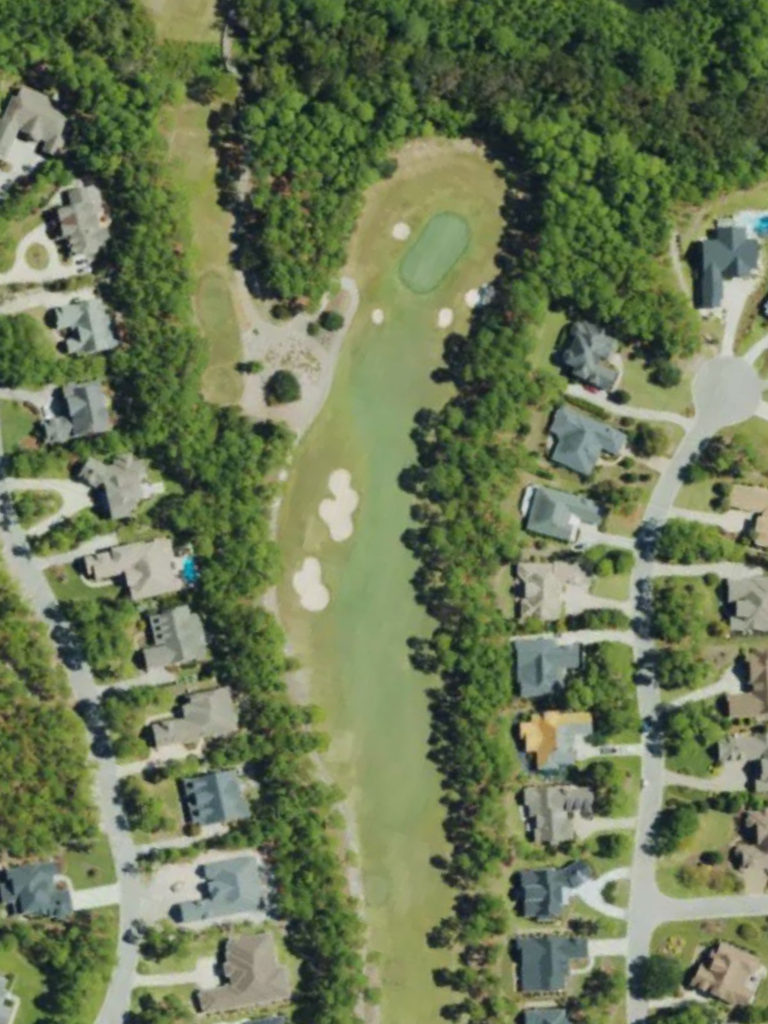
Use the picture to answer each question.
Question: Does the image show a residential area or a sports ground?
residential area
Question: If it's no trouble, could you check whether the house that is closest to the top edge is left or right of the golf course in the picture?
left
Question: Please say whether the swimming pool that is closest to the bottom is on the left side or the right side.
left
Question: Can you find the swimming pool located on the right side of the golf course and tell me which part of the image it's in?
top right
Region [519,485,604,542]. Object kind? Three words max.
house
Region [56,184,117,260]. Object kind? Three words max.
house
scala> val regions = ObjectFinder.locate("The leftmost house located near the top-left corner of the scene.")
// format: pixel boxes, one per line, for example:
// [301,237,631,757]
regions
[0,85,74,162]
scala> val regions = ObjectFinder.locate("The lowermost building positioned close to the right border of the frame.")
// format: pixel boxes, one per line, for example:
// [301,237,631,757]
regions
[689,941,762,1008]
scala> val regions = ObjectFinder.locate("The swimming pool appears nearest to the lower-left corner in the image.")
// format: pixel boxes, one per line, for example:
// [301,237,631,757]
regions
[176,550,197,585]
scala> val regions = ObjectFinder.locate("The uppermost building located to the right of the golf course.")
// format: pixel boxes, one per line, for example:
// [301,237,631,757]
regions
[700,226,759,307]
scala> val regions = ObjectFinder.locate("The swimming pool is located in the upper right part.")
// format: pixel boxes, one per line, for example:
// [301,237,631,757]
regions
[733,209,768,240]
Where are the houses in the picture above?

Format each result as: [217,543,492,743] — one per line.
[517,934,588,991]
[523,1009,567,1024]
[558,319,623,391]
[719,736,768,795]
[0,982,16,1024]
[518,785,594,845]
[47,382,111,444]
[516,561,591,622]
[728,580,768,633]
[728,650,768,718]
[700,226,759,307]
[54,296,122,355]
[0,863,75,917]
[731,483,768,547]
[72,456,151,520]
[516,639,579,698]
[689,941,762,1008]
[736,811,768,868]
[56,184,117,260]
[517,864,586,919]
[0,85,74,162]
[152,683,241,750]
[551,405,629,475]
[184,771,252,826]
[144,607,213,673]
[203,932,295,1013]
[519,485,604,542]
[83,539,184,601]
[181,854,267,925]
[520,711,592,767]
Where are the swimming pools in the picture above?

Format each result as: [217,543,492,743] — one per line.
[733,209,768,240]
[176,550,197,585]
